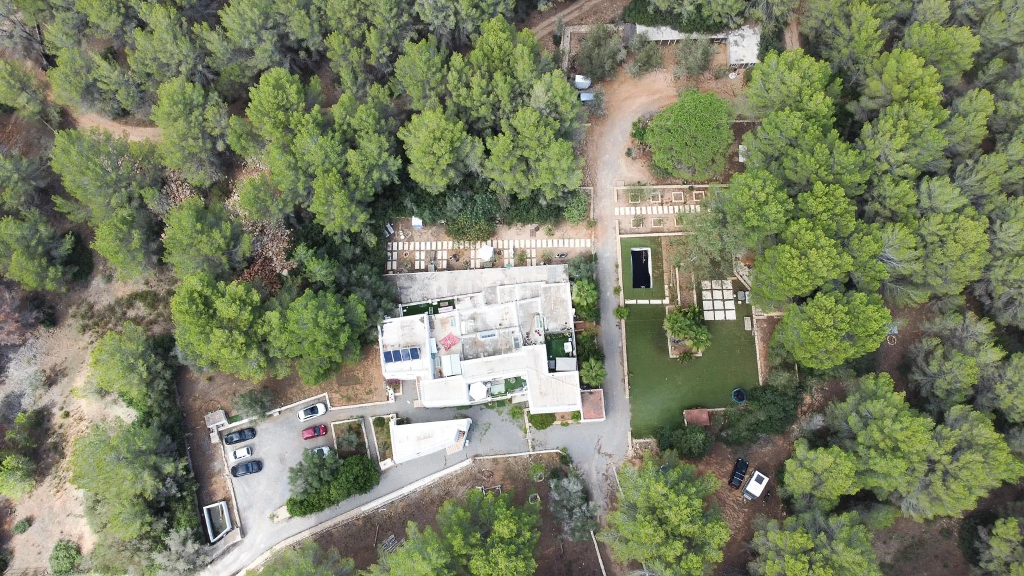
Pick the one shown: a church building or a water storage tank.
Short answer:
water storage tank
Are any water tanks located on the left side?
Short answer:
Yes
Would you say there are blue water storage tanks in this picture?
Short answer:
No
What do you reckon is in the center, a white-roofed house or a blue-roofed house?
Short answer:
white-roofed house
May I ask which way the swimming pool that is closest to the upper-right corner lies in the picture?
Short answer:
up and down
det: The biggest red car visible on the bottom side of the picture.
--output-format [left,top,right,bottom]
[301,424,328,440]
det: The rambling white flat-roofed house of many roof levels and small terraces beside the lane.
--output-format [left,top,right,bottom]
[378,264,604,423]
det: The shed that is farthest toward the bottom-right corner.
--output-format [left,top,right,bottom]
[684,408,710,426]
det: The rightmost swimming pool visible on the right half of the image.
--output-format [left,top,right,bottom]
[631,248,653,288]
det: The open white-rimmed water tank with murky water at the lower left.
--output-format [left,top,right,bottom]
[204,501,236,542]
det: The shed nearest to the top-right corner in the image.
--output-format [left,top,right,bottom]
[728,25,760,74]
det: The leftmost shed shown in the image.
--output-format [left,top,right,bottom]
[205,410,233,444]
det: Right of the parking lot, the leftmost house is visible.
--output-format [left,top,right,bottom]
[378,414,474,470]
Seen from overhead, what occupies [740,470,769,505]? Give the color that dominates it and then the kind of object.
white camper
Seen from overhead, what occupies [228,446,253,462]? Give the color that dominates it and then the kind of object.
white car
